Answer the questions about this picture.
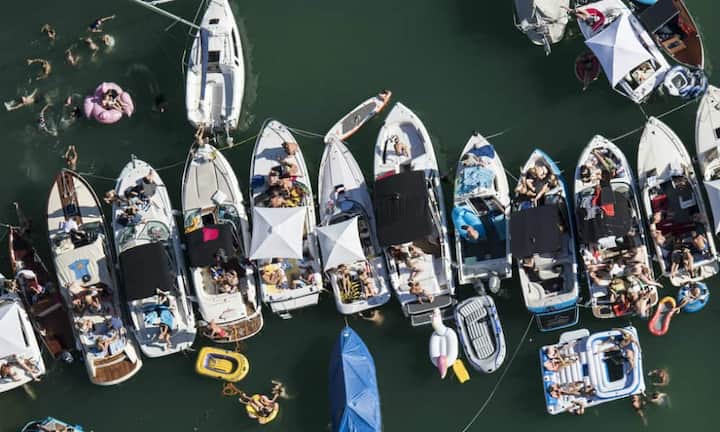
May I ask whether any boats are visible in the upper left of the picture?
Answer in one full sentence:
Yes, you'll find a boat in the upper left of the picture.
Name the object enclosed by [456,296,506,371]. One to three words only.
boat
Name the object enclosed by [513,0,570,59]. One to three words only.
boat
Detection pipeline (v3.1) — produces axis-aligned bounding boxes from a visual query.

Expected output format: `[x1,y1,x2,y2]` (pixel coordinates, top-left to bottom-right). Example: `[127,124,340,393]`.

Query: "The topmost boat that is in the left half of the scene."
[124,0,247,144]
